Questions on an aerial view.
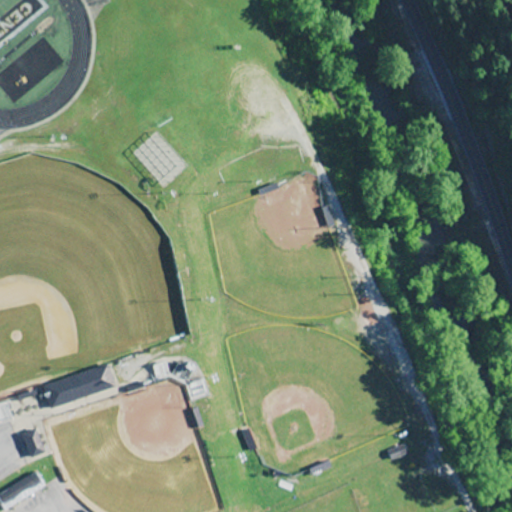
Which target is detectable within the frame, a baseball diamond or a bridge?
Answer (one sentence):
The image shows a baseball diamond.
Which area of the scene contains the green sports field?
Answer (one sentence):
The green sports field is in the top left part of the image.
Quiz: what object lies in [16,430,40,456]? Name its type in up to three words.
shed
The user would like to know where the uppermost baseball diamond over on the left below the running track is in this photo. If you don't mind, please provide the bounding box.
[0,154,186,398]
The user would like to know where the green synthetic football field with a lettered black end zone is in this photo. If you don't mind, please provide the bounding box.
[0,0,74,108]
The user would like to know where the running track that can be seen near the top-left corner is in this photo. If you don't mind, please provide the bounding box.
[0,0,93,128]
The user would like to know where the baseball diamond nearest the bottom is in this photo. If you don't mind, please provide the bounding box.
[46,378,223,512]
